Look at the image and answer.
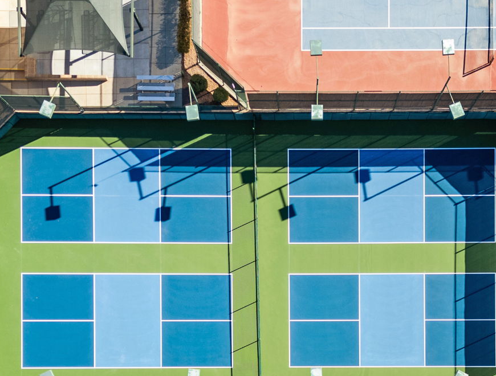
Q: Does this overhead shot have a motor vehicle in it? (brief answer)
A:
No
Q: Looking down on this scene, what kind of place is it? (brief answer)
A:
sports ground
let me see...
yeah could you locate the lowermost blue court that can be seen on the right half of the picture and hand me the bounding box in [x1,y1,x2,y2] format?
[288,273,496,367]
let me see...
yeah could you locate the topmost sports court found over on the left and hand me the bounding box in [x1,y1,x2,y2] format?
[22,148,231,243]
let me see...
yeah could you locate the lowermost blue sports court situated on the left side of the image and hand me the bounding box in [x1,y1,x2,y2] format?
[22,273,233,368]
